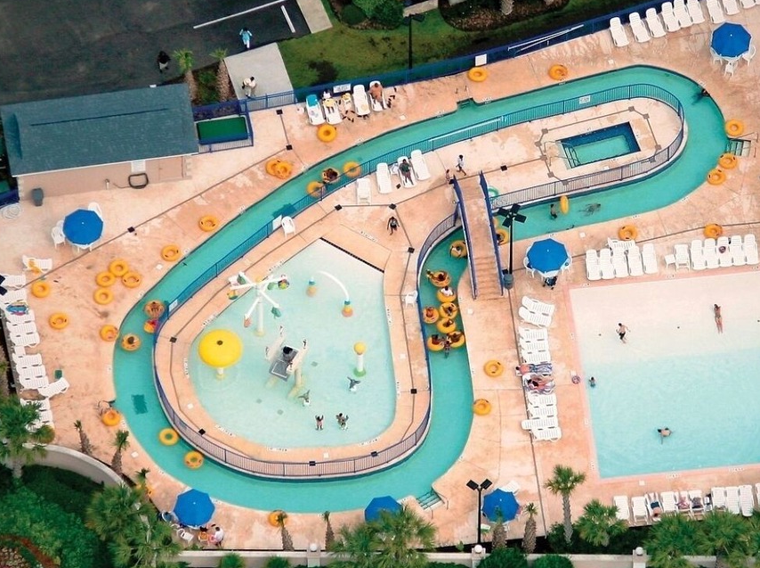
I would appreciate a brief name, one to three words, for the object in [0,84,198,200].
building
